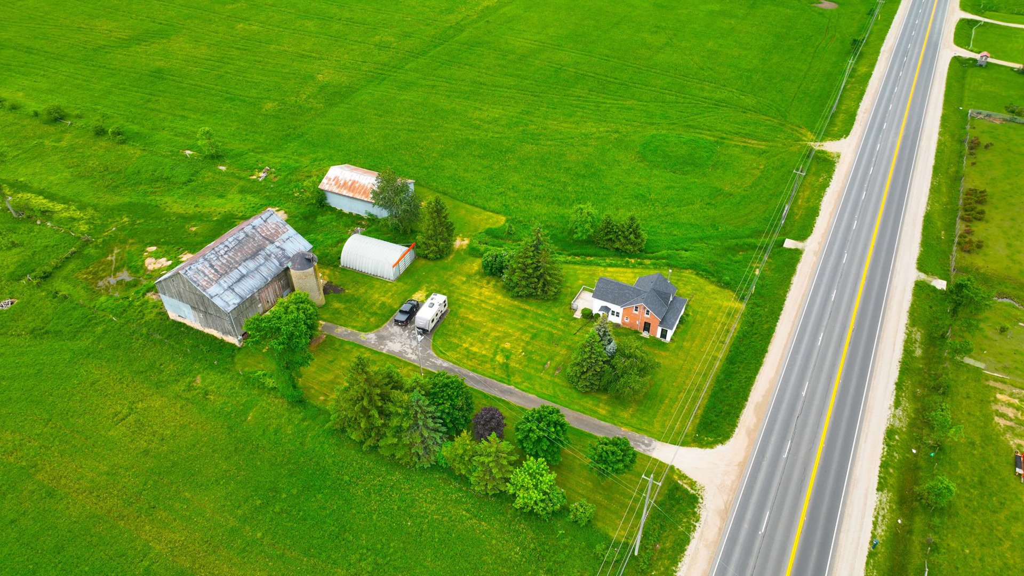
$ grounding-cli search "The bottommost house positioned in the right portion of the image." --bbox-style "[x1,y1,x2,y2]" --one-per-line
[573,269,688,342]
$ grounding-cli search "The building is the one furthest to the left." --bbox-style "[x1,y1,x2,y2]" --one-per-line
[153,211,313,347]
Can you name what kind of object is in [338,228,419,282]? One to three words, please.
shed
